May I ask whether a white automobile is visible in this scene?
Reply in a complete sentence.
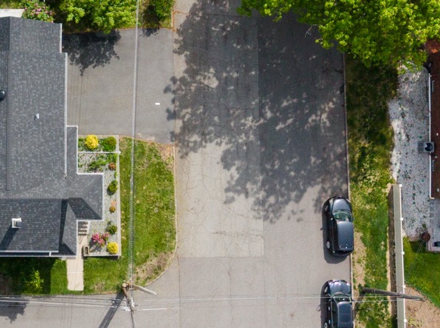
No, there isn't any white automobile down there.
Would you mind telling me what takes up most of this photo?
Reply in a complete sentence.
For the most part, this view shows paved ground.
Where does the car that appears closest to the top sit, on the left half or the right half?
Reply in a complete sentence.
The car that appears closest to the top is on the right side of the image.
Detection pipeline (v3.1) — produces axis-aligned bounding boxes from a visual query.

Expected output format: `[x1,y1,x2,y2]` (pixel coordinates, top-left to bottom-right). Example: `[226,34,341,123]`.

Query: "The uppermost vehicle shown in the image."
[324,197,358,258]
